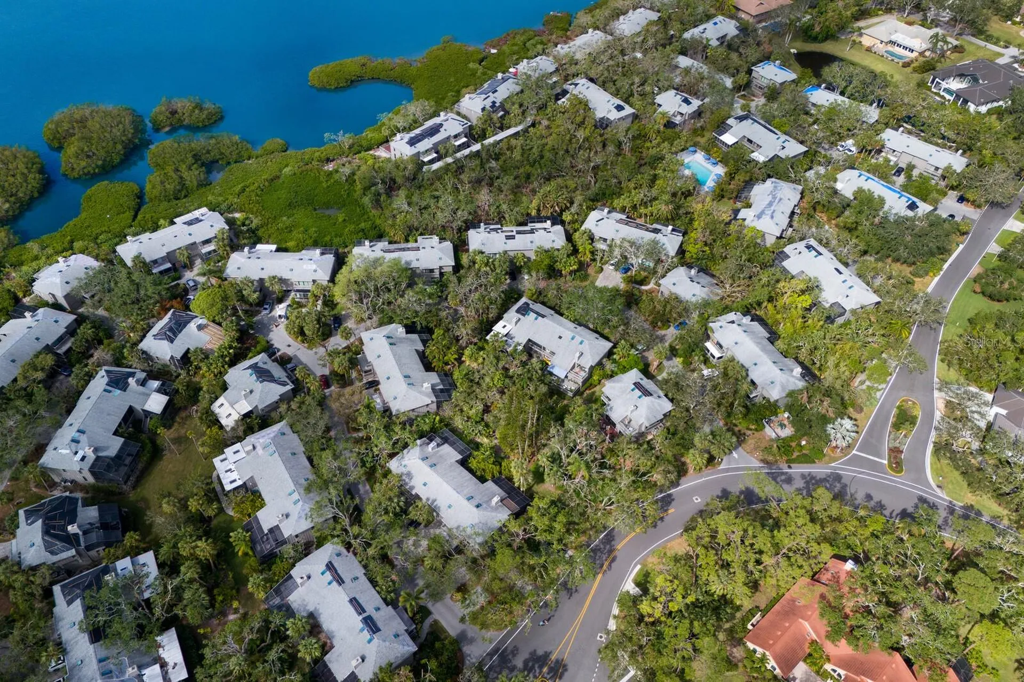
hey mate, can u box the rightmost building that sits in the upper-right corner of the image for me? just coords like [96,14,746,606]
[924,61,1024,118]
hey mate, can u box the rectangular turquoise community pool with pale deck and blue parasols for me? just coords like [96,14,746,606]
[678,147,728,190]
